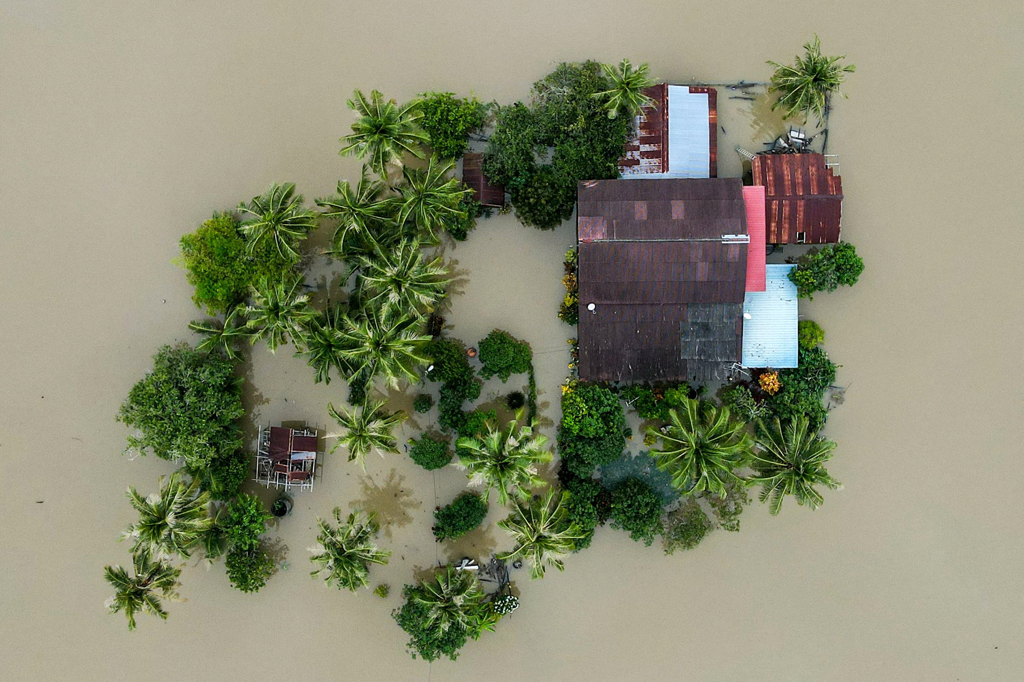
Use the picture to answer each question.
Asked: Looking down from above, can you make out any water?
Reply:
Yes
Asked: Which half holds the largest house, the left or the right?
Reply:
right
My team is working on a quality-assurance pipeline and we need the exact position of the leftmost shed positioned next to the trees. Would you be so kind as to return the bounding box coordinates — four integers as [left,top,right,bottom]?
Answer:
[252,424,321,492]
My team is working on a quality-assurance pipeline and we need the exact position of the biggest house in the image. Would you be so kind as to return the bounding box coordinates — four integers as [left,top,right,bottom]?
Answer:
[576,178,799,382]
